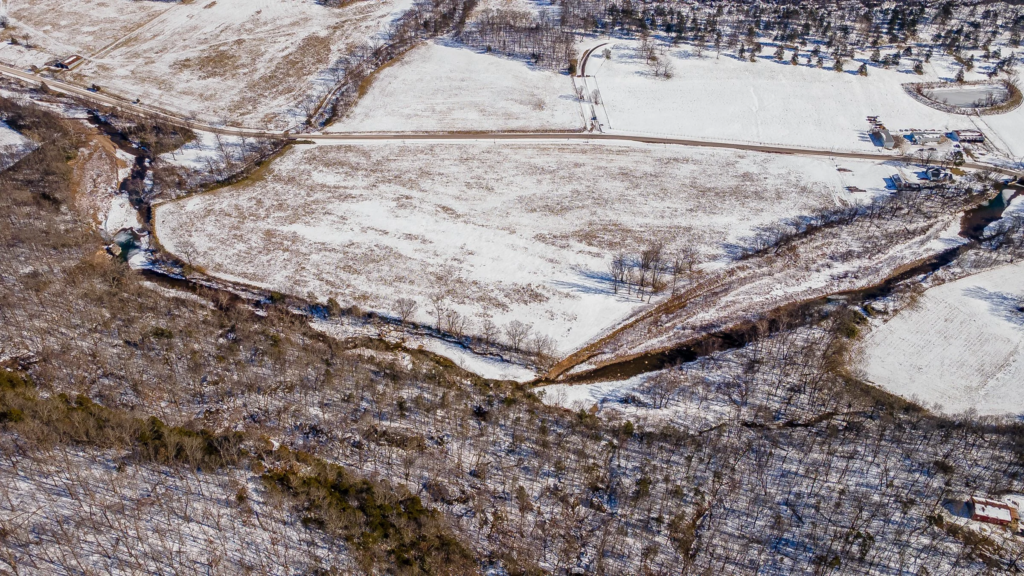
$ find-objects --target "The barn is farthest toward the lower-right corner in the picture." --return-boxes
[964,492,1022,523]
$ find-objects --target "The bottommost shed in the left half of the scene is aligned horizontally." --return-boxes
[52,54,91,69]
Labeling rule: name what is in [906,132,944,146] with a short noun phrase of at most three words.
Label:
house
